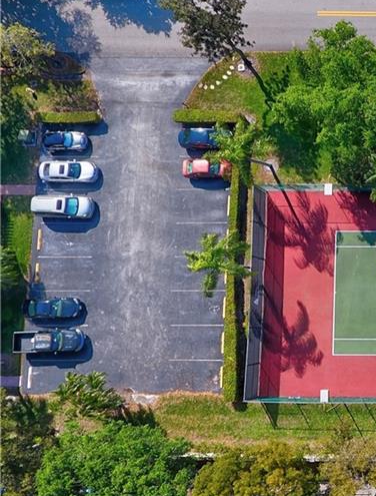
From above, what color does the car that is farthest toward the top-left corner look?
blue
